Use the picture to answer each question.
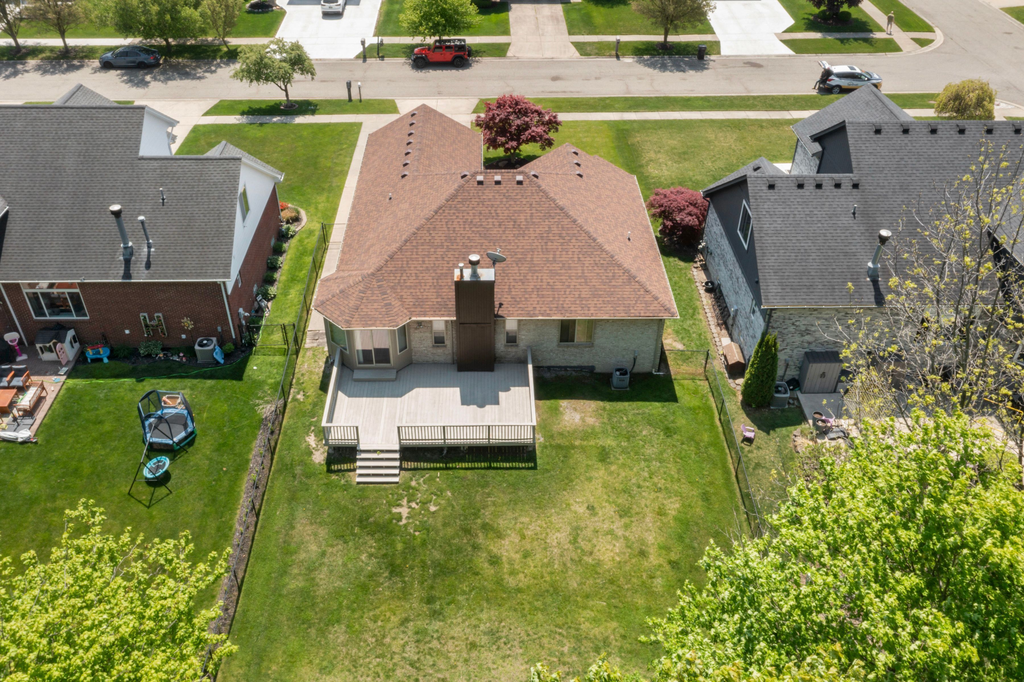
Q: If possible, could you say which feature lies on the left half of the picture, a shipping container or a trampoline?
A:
trampoline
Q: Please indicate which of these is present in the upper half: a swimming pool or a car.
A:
car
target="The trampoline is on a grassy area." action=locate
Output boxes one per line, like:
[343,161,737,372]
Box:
[131,385,198,455]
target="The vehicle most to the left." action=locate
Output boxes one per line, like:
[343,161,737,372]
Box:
[101,41,165,67]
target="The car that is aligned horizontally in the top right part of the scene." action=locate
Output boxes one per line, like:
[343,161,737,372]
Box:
[821,60,890,94]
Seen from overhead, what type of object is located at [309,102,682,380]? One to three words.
house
